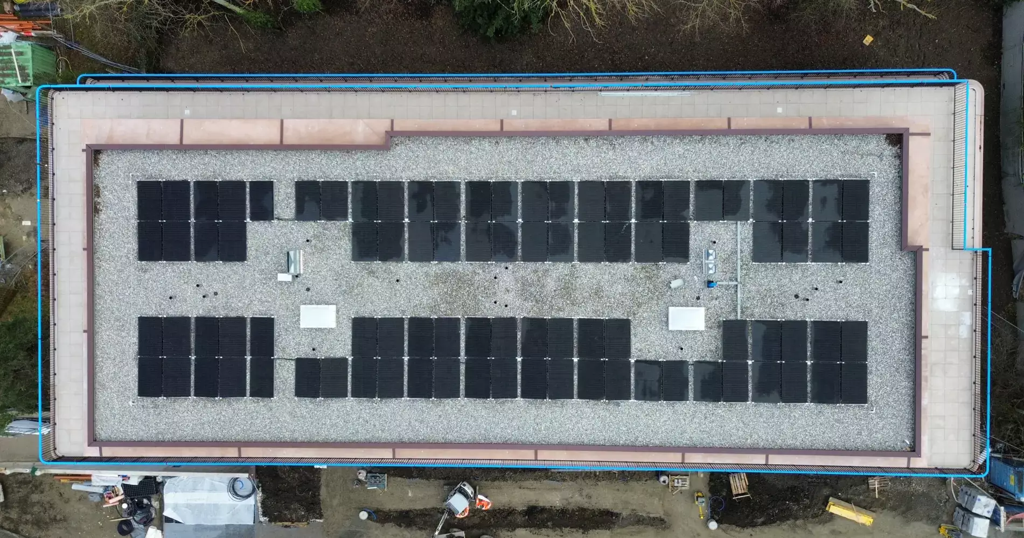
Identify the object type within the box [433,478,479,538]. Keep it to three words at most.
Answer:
work vehicle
